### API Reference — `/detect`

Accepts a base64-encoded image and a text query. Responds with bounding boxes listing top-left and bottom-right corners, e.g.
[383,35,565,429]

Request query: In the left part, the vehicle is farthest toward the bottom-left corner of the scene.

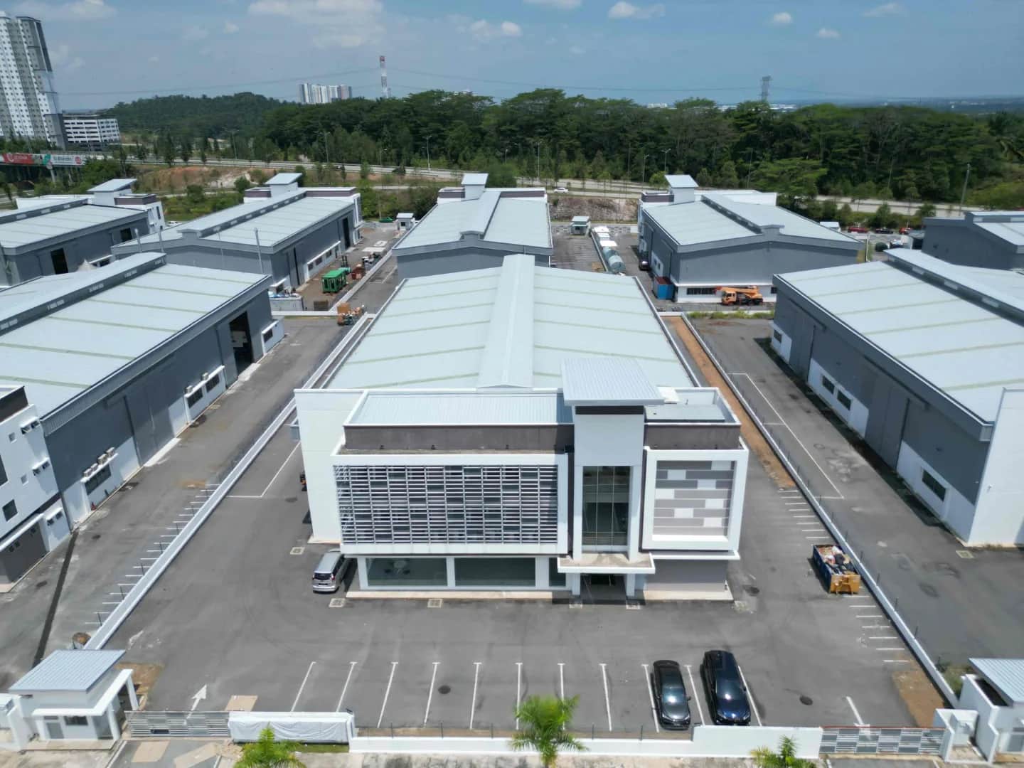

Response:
[312,545,352,588]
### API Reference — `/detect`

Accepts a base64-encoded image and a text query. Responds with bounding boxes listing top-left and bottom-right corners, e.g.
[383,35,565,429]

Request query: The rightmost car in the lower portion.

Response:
[699,644,749,719]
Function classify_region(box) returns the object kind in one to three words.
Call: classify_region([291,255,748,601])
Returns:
building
